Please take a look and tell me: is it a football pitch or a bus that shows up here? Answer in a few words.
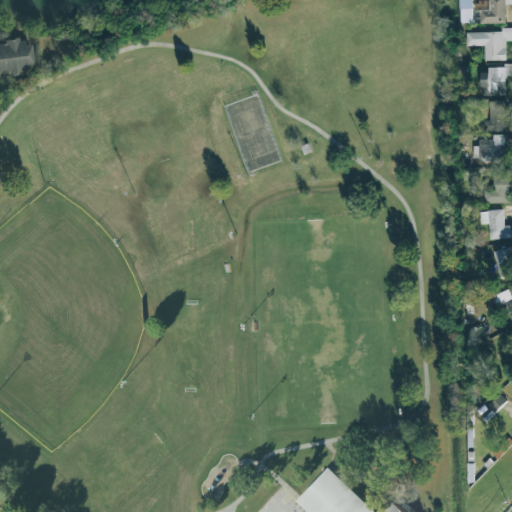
football pitch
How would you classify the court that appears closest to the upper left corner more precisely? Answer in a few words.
tennis court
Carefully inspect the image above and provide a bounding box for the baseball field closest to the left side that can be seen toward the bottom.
[0,189,143,450]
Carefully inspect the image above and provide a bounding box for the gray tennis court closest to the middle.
[226,96,280,171]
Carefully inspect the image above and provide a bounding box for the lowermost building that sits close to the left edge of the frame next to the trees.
[0,36,34,75]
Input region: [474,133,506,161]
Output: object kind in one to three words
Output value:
house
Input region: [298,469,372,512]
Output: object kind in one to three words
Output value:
building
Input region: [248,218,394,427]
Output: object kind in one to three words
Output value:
soccer field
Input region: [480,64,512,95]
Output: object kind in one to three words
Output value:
house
